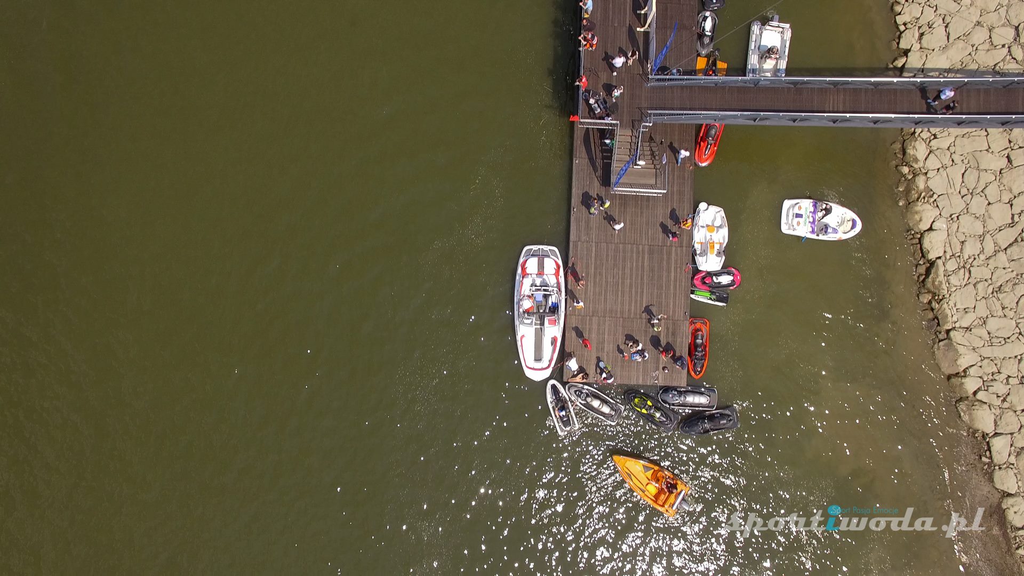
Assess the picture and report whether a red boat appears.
Yes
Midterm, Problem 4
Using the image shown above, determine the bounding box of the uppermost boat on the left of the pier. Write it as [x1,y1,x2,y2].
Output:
[514,244,566,382]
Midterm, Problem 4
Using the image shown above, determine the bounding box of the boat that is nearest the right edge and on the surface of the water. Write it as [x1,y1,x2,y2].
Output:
[776,200,862,242]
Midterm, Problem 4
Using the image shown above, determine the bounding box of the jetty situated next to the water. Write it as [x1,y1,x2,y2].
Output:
[564,0,697,385]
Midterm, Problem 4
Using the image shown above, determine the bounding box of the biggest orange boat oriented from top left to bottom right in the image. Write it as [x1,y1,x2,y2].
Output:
[610,453,692,516]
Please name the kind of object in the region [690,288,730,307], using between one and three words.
boat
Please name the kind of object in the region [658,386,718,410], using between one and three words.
boat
